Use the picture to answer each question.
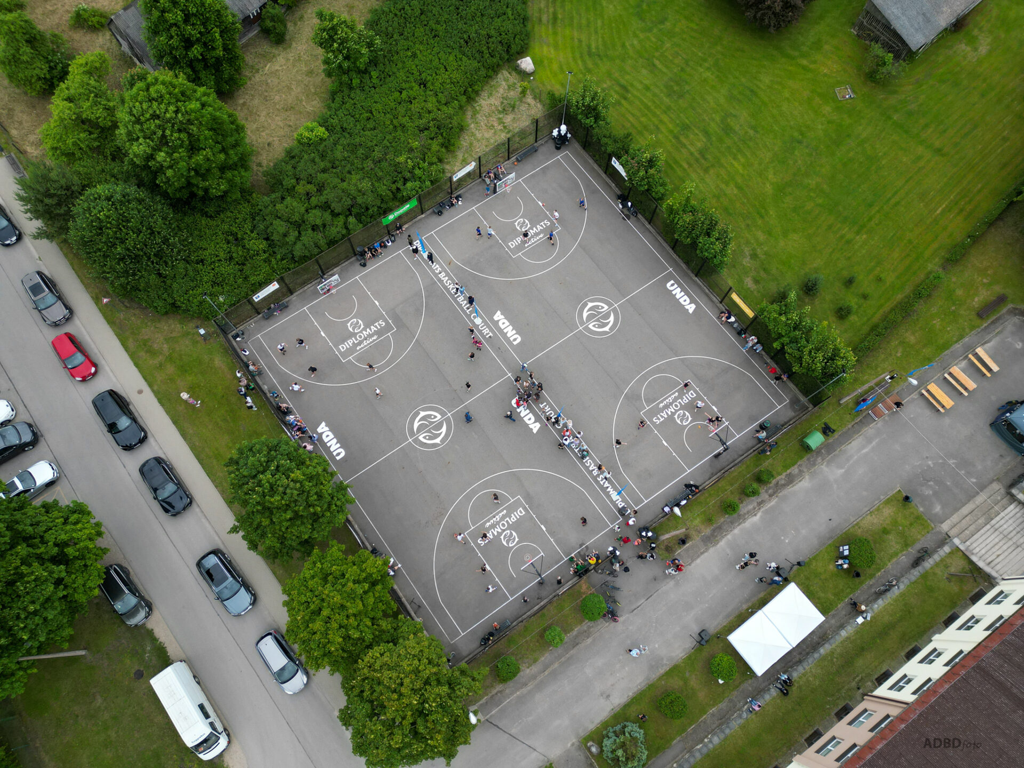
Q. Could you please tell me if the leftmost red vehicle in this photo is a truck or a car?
car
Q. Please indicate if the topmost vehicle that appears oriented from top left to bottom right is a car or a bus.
car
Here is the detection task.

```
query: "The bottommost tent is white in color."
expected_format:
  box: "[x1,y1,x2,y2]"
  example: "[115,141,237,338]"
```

[719,583,825,676]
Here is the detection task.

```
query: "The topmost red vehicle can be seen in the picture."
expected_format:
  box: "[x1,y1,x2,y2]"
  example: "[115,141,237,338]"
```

[50,332,98,380]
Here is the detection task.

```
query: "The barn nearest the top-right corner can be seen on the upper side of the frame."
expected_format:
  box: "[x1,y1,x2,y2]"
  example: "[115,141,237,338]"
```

[856,0,962,60]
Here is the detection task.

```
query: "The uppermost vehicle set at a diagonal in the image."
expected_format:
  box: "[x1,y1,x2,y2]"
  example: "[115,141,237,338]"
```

[18,268,71,326]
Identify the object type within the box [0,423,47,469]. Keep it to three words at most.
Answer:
car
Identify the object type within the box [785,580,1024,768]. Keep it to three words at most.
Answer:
building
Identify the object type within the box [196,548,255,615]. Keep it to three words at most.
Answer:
car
